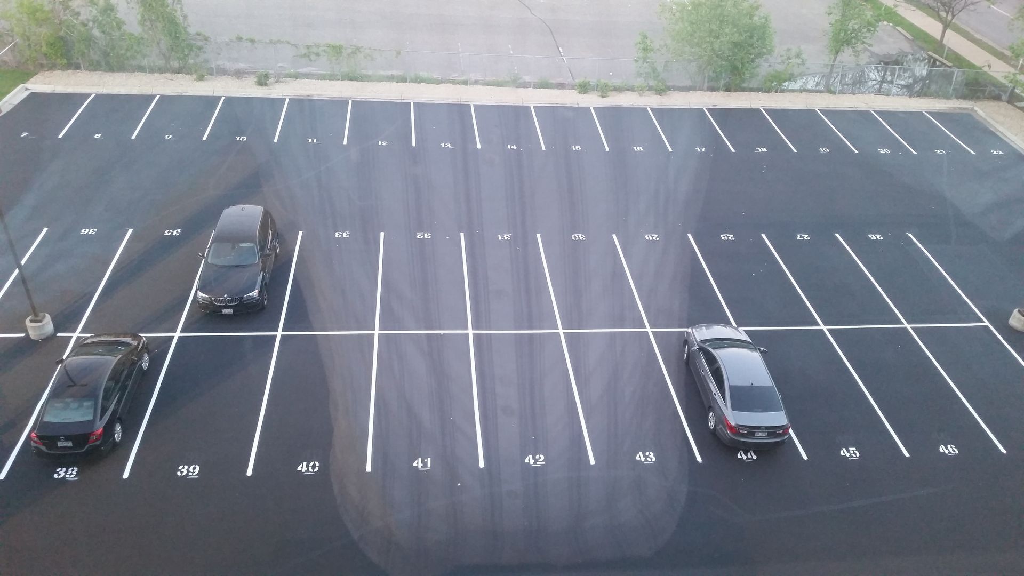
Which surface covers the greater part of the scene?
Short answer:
paved ground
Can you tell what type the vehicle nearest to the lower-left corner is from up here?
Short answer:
automobile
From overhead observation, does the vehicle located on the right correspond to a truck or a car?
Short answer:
car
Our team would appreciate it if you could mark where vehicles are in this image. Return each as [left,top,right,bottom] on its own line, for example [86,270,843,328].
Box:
[682,324,797,451]
[26,332,148,462]
[189,205,276,318]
